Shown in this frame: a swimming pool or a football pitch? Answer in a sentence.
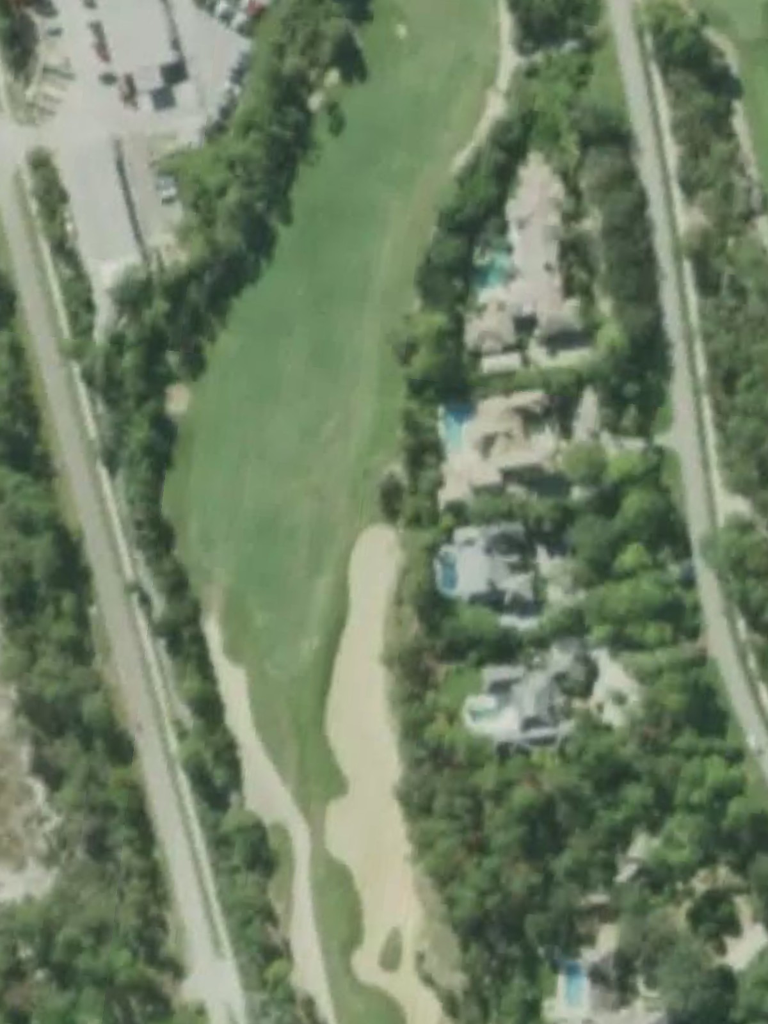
It is a swimming pool that can be seen here.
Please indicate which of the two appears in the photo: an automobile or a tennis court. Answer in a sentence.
Looking from above, you can make out an automobile.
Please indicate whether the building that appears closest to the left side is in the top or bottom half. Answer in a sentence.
The building that appears closest to the left side is in the top half of the image.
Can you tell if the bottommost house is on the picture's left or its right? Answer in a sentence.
The bottommost house is on the right side of the image.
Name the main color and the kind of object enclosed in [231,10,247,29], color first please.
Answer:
white car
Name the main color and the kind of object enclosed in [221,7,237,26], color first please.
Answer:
gray car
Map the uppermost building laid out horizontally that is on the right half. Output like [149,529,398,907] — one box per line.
[481,352,522,373]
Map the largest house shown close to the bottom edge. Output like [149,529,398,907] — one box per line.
[590,923,621,1013]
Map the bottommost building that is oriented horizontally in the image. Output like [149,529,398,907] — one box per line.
[583,893,612,907]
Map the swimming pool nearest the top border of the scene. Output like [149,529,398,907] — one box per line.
[473,247,513,288]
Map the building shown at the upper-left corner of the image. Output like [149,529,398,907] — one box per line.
[102,0,174,88]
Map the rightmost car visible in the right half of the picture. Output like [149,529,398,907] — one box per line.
[746,727,761,748]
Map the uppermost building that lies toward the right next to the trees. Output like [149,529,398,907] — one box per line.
[465,150,586,355]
